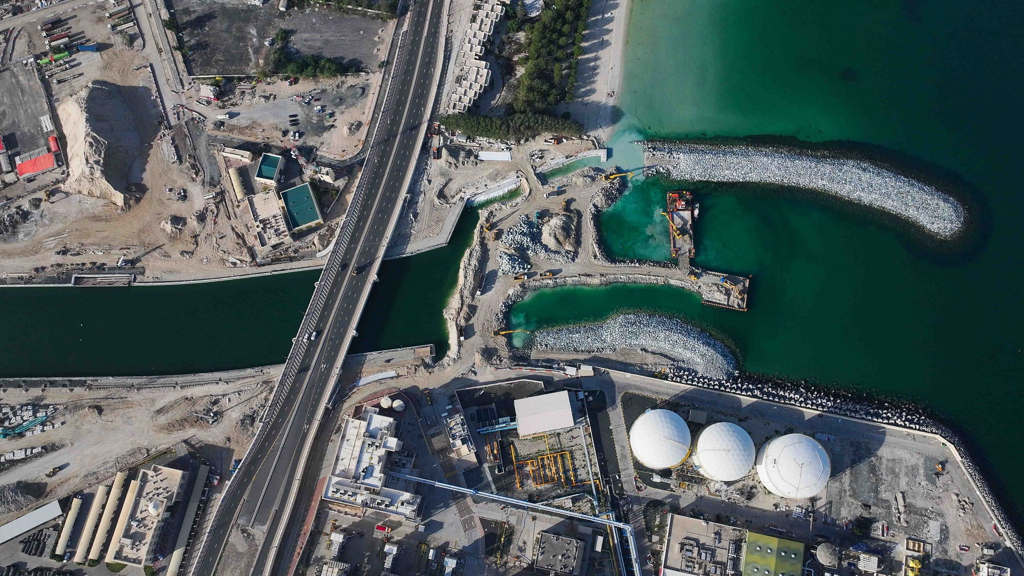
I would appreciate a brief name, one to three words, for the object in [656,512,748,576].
building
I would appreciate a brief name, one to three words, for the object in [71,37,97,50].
vehicle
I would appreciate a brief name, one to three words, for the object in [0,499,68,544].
shed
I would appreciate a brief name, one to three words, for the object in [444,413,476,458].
house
